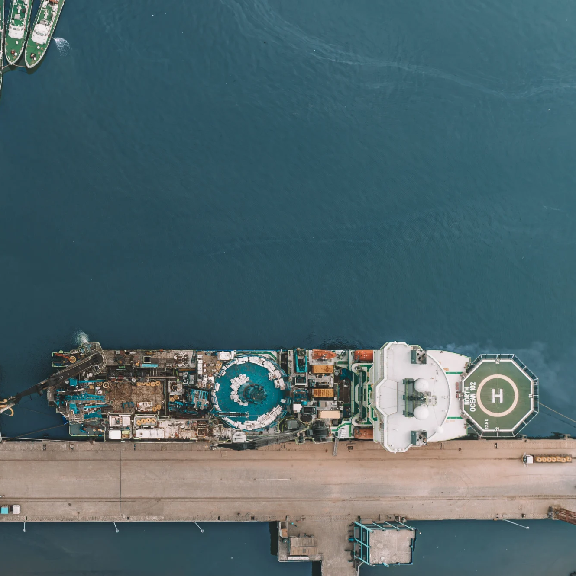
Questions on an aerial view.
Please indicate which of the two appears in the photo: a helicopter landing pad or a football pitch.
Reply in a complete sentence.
Visible in the photo is a helicopter landing pad.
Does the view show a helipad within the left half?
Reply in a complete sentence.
No, there's no helipad to be seen within the left half.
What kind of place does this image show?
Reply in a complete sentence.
This image shows a port.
